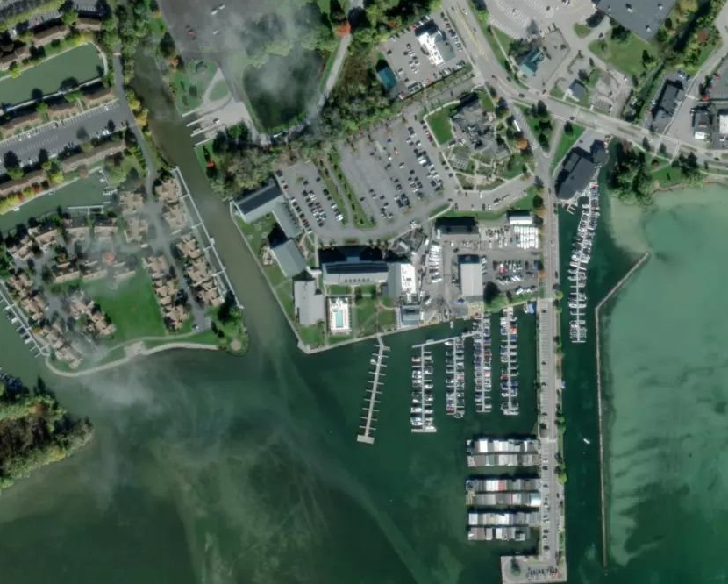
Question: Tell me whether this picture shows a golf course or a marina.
marina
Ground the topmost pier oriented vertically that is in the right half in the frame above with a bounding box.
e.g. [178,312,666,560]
[570,184,595,342]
